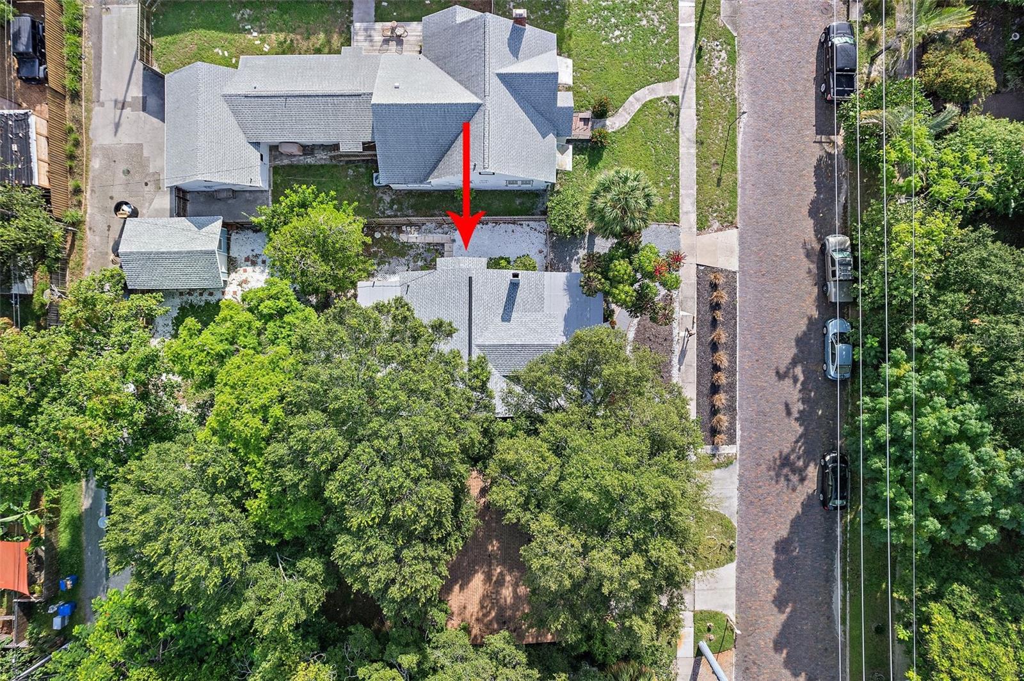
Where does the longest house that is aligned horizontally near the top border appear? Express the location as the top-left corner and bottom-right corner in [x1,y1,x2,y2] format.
[165,5,591,193]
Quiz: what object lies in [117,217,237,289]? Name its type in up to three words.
shed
